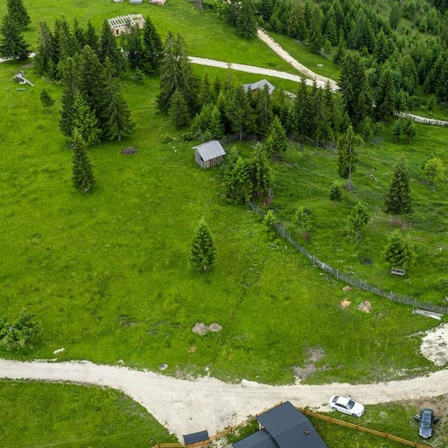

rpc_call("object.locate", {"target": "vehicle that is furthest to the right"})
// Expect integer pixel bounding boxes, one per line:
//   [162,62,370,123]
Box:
[411,405,443,440]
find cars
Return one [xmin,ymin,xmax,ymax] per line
[327,392,366,418]
[411,405,443,440]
